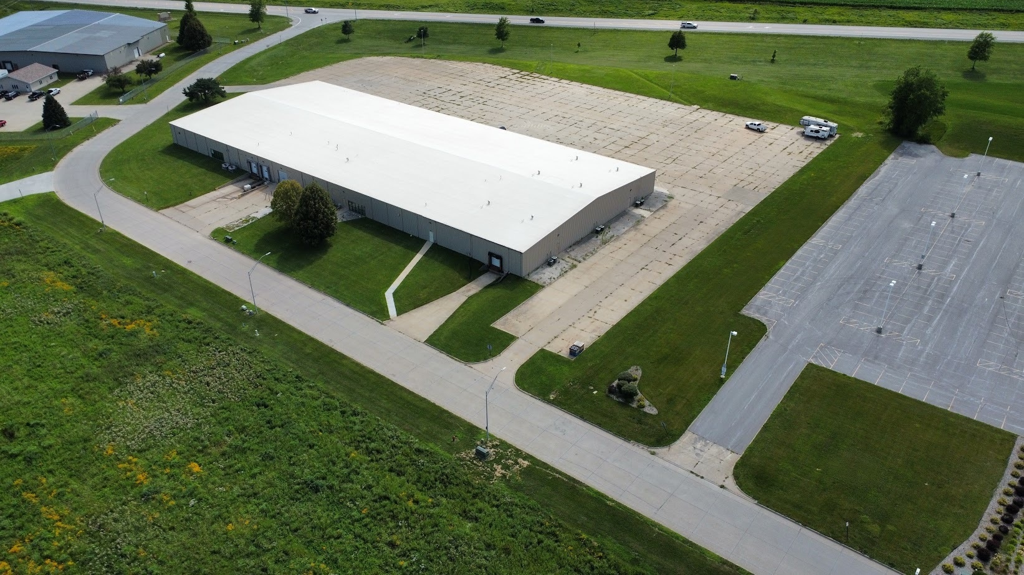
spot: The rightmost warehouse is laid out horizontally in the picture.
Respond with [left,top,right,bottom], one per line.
[169,81,658,277]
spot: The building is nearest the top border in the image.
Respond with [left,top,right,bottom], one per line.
[0,9,171,71]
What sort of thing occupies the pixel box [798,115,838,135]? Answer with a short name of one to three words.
camper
